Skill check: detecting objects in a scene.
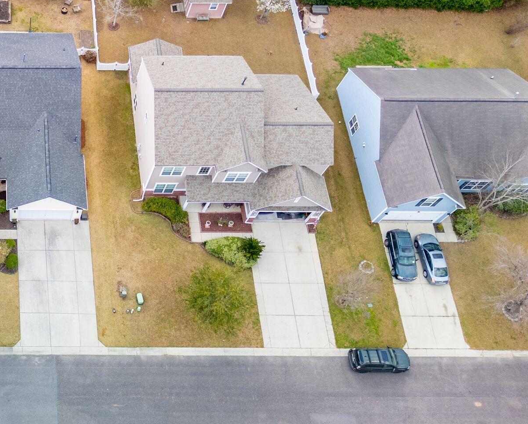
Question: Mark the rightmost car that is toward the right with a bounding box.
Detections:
[413,234,456,288]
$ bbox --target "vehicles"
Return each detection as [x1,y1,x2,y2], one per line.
[413,234,456,288]
[381,229,420,285]
[344,346,411,377]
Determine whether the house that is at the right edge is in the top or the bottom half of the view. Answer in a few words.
top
